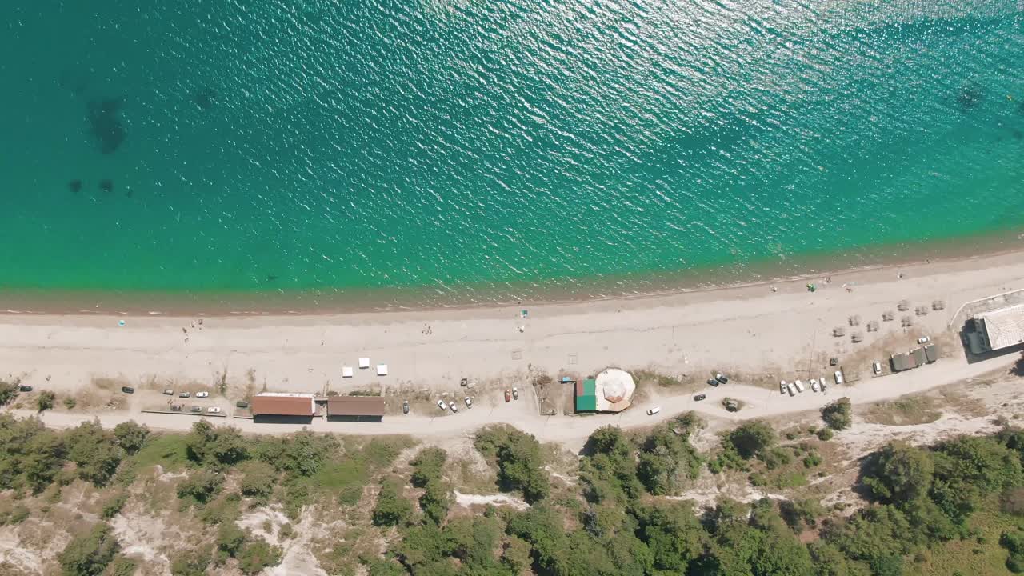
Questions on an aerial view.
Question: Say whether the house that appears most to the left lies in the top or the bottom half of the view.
bottom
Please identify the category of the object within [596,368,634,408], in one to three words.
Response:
building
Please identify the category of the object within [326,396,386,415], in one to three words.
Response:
house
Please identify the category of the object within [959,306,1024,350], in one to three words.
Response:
building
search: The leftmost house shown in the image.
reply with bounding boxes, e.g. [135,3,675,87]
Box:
[251,391,317,416]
